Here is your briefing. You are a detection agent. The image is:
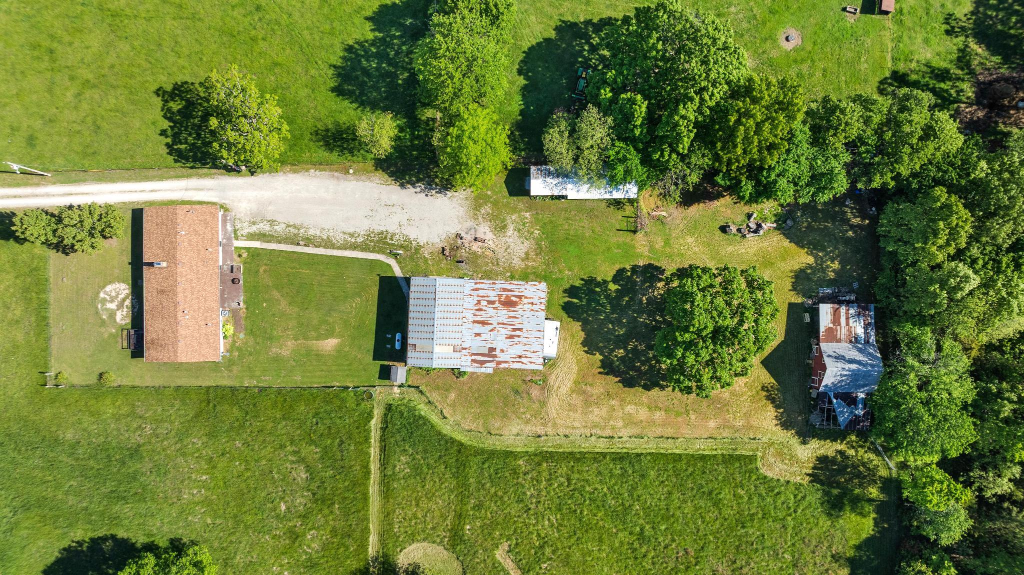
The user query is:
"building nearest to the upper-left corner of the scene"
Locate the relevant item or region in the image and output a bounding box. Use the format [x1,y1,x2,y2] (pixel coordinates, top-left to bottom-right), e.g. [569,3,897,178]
[143,205,227,362]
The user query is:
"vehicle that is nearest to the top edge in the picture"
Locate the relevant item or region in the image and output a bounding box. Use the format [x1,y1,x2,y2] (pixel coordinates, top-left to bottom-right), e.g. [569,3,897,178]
[572,67,592,103]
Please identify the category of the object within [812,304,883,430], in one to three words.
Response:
barn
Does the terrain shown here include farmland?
Yes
